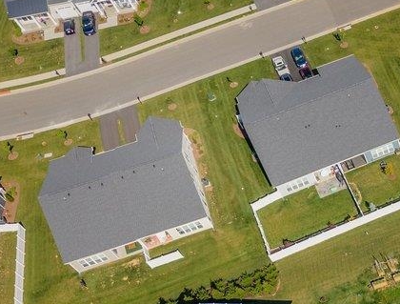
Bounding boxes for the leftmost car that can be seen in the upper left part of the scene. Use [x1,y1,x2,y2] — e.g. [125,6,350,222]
[63,17,79,39]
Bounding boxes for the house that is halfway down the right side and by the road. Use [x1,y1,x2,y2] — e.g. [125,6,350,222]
[233,55,400,197]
